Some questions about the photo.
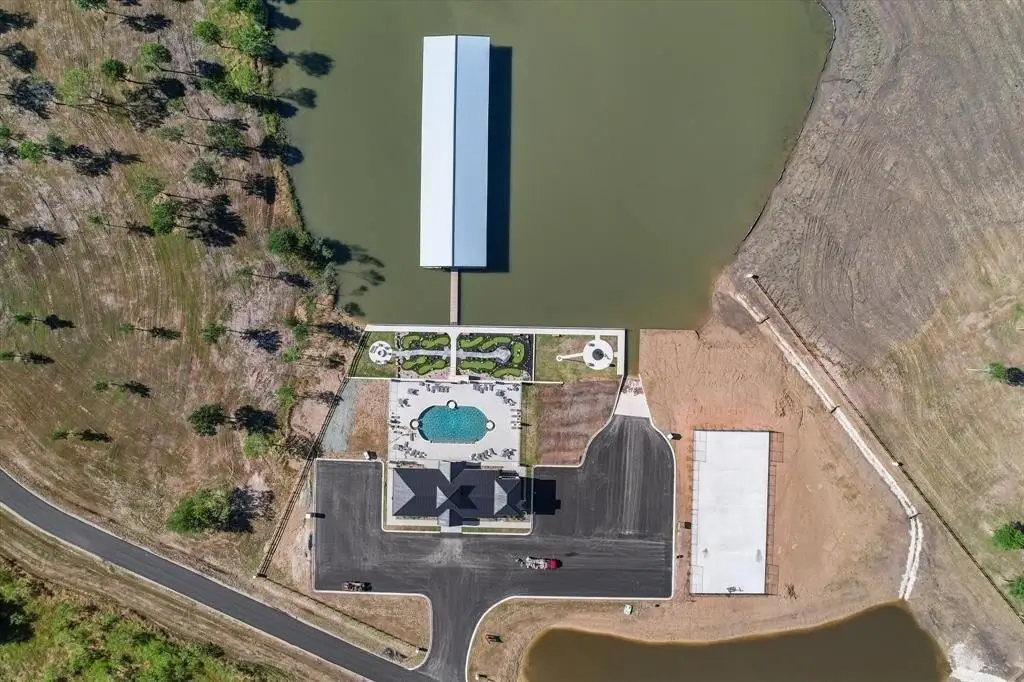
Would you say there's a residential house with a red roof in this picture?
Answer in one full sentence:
No, I can't see a single residential house with a red roof in this photo.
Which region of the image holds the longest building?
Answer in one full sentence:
The longest building is in the top part of the image.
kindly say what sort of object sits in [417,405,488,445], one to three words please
swimming pool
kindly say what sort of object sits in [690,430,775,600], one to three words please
sports court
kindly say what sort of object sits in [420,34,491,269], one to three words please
building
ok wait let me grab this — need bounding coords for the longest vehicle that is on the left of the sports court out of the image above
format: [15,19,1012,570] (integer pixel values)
[526,559,558,571]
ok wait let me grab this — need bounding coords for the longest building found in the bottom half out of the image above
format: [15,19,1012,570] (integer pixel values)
[393,461,524,527]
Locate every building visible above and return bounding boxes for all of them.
[393,461,524,527]
[420,34,491,269]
